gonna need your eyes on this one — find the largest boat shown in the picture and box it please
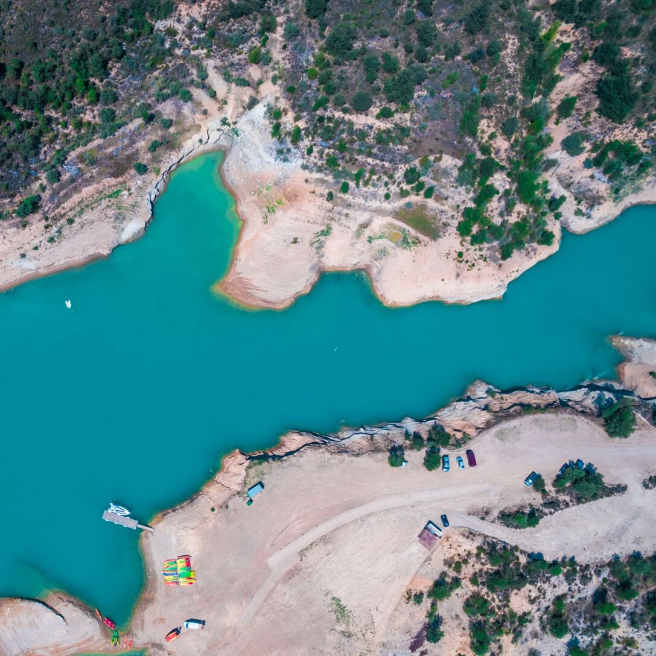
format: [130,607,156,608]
[109,504,131,516]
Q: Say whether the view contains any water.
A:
Yes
